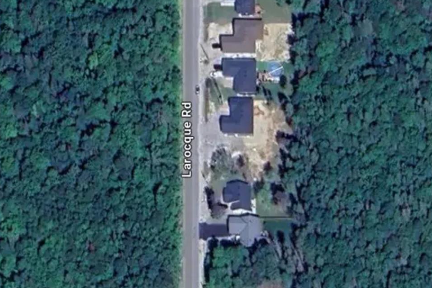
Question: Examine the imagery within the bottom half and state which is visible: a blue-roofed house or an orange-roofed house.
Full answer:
There is a blue-roofed house within the bottom half.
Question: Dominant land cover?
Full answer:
Most of the picture is covered by trees.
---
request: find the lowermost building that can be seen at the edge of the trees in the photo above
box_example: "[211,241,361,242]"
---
[229,214,262,246]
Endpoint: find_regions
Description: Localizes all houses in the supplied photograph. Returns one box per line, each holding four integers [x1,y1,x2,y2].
[221,180,251,210]
[235,0,255,16]
[222,20,262,54]
[229,214,262,246]
[221,98,253,135]
[222,59,256,94]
